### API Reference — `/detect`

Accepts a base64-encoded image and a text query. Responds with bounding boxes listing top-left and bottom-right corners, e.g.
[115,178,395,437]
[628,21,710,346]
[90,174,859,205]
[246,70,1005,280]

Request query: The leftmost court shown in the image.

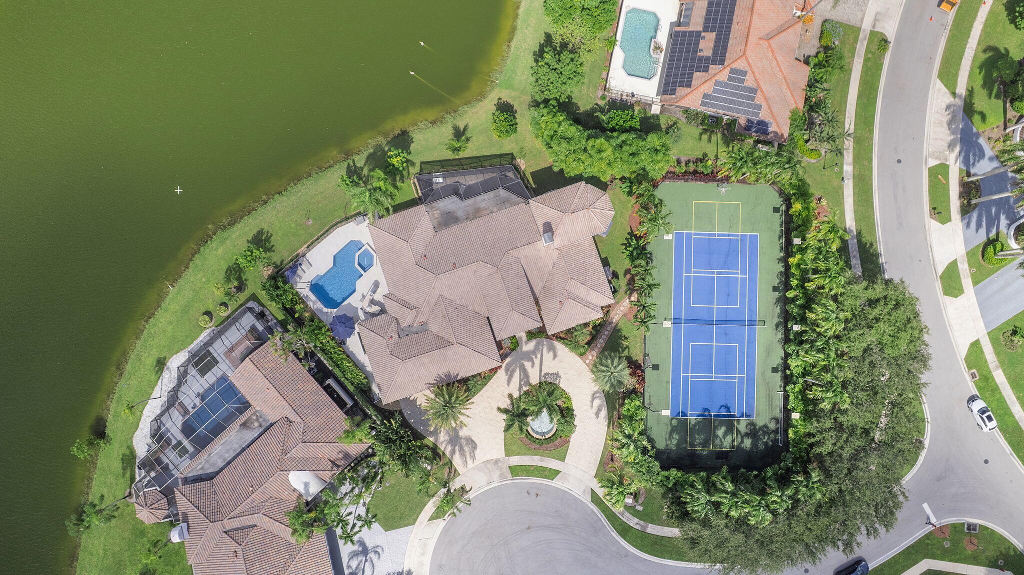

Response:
[644,182,787,469]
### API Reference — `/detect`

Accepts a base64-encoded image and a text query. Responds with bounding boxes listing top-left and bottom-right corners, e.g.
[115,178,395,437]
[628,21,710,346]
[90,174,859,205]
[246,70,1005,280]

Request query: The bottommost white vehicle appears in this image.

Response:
[967,397,1000,434]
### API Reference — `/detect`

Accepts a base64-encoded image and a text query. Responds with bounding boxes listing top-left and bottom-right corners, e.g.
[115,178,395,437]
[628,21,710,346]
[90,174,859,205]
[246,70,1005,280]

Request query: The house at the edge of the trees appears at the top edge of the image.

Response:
[660,0,815,144]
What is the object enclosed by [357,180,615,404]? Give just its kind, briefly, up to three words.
house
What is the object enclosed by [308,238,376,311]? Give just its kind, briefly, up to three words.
swimming pool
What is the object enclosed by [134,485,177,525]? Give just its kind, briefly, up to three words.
gazebo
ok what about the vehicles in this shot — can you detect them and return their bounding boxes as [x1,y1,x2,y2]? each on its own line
[967,397,1000,434]
[831,559,868,575]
